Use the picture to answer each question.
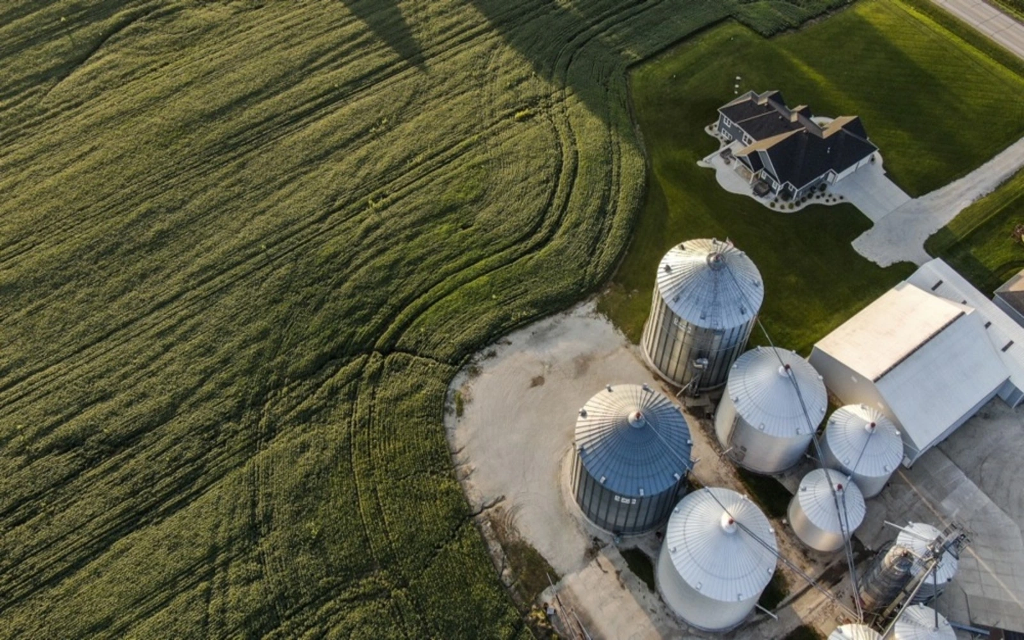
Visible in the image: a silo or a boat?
silo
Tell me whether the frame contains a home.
Yes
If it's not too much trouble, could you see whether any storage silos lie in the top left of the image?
No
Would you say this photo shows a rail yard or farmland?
farmland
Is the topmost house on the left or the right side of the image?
right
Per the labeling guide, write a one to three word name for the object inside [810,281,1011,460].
barn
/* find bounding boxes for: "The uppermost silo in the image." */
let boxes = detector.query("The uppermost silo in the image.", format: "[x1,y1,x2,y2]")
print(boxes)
[642,235,765,390]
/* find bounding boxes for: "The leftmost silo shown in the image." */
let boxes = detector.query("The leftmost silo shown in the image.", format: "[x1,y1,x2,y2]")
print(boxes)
[564,383,695,538]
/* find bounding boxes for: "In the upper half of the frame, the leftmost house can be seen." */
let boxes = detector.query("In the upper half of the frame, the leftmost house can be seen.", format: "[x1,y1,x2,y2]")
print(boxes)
[716,89,879,203]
